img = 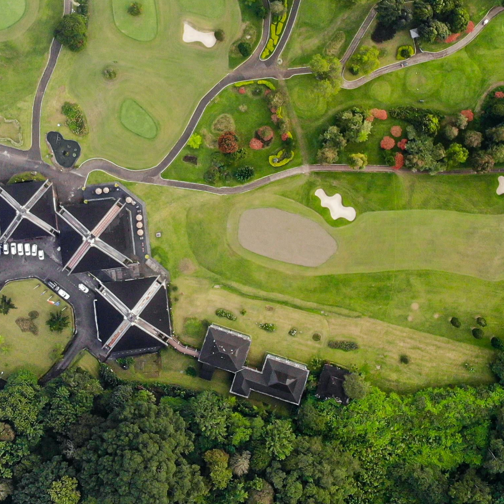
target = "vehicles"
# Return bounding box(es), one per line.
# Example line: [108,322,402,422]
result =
[24,243,30,257]
[77,282,89,294]
[47,280,61,292]
[11,243,17,256]
[38,249,45,261]
[3,242,10,256]
[58,288,71,300]
[32,244,38,257]
[17,243,24,256]
[482,19,491,25]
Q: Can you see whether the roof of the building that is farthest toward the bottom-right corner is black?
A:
Yes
